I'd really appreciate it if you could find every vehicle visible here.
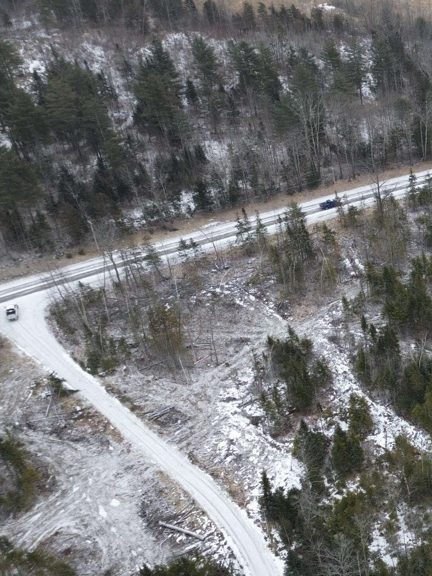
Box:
[2,303,19,319]
[319,200,342,211]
